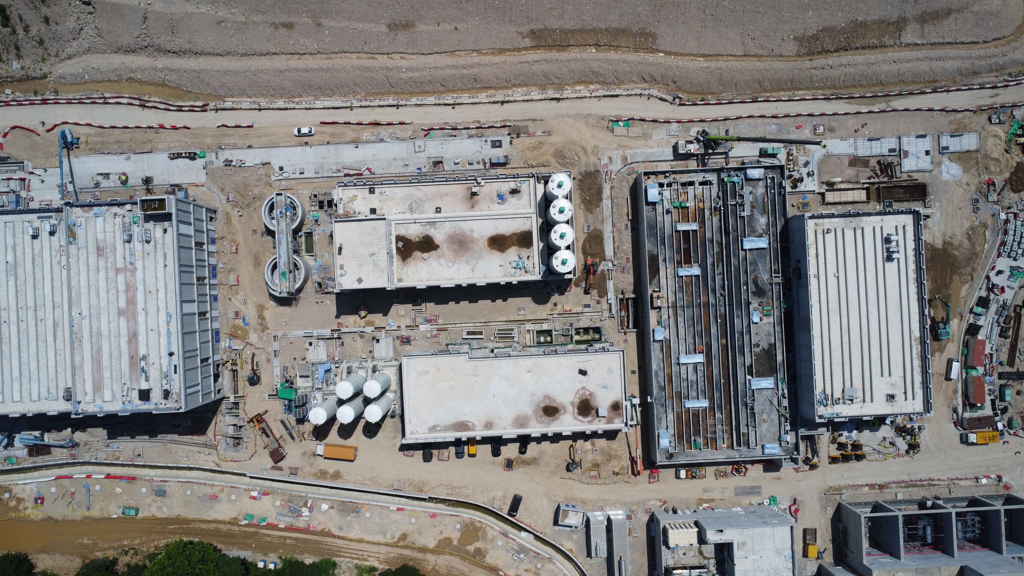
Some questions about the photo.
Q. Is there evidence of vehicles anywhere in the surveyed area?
Yes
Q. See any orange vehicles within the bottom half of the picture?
Yes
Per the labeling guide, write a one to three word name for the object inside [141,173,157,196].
work vehicle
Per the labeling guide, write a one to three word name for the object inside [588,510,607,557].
building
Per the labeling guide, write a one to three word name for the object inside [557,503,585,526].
shed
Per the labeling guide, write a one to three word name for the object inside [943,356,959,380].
vehicle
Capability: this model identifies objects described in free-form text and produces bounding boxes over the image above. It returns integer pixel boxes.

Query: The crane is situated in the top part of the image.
[676,126,828,166]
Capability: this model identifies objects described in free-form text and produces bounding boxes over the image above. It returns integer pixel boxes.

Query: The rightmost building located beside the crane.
[788,208,934,422]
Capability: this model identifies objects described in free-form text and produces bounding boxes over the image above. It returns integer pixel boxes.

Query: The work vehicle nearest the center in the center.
[586,255,598,291]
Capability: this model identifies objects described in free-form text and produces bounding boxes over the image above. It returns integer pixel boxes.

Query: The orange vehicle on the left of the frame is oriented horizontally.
[314,443,361,461]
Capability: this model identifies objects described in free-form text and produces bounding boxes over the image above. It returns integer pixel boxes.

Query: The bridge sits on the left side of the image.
[274,192,295,292]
